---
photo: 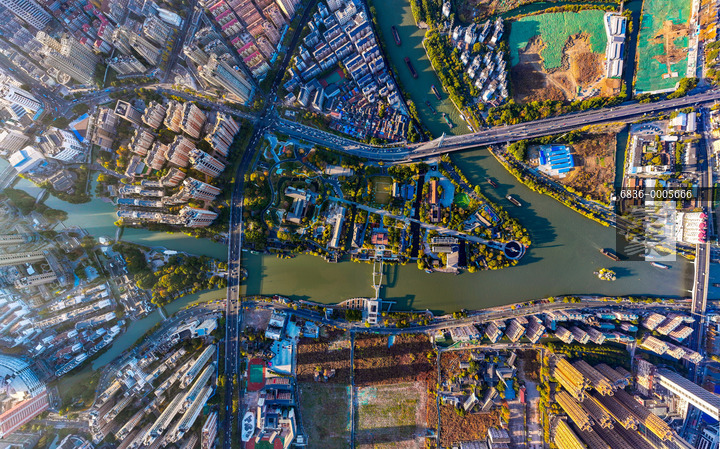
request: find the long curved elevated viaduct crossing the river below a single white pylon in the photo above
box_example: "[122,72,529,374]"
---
[263,84,720,160]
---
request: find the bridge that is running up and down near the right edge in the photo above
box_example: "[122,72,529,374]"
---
[689,233,710,347]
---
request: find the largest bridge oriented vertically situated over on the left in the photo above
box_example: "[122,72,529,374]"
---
[226,200,242,386]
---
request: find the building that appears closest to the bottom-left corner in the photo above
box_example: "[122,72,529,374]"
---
[0,384,67,434]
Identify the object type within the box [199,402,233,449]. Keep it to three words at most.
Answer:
building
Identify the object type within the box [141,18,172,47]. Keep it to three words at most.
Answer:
building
